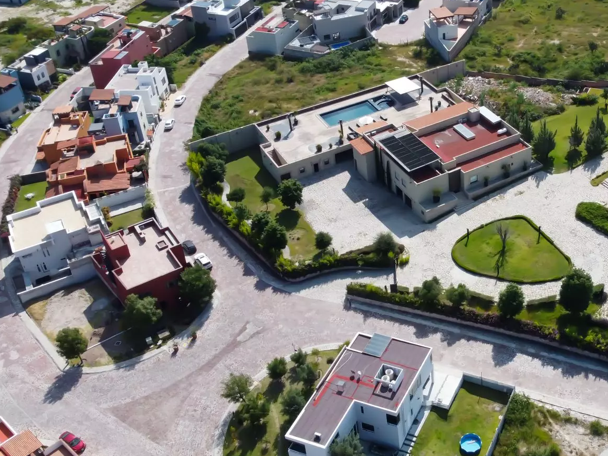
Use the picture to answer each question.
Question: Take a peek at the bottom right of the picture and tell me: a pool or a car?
pool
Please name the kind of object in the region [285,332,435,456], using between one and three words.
house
